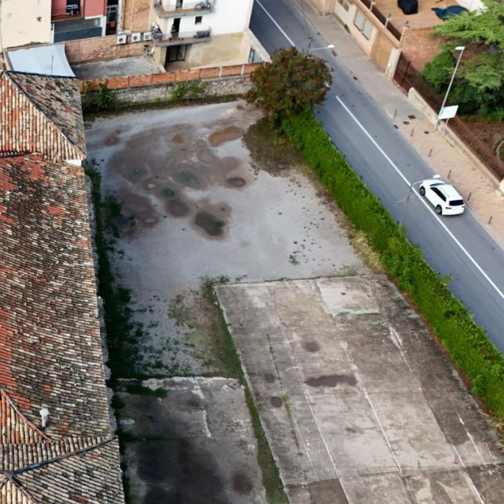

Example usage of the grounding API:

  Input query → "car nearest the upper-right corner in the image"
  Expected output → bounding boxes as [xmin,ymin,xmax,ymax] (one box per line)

[421,181,468,217]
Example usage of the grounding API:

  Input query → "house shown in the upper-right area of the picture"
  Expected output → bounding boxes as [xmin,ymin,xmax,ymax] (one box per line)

[323,0,419,85]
